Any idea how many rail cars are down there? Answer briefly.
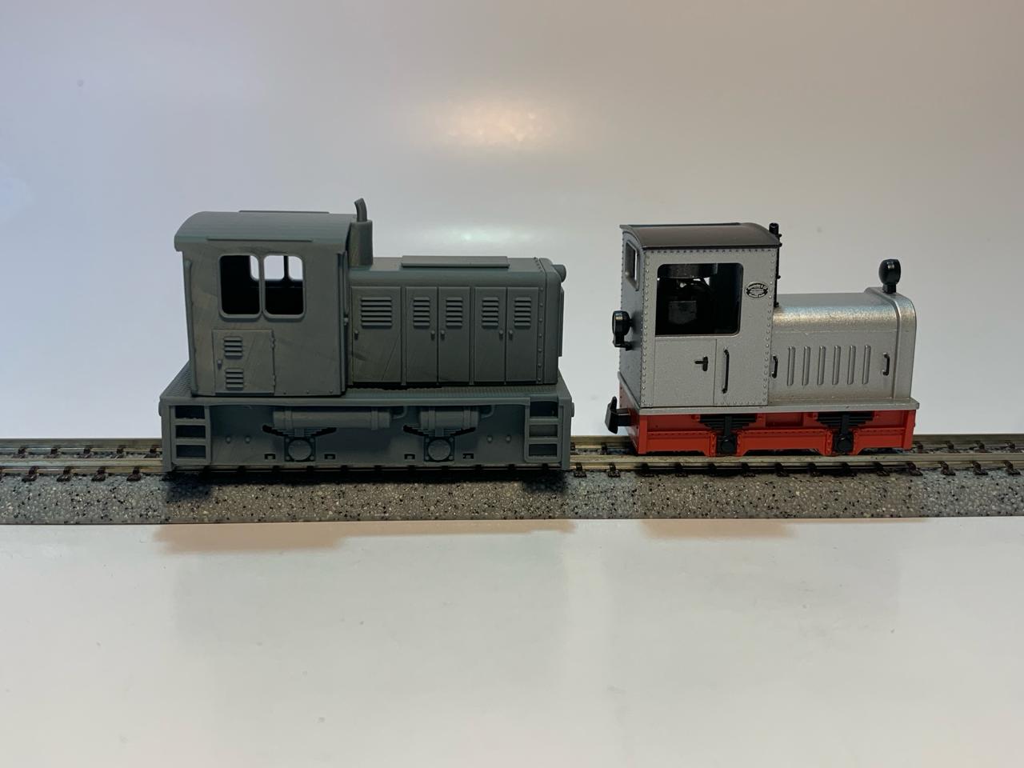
two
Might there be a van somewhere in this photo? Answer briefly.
No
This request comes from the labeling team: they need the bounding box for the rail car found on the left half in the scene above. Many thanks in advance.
[157,196,574,472]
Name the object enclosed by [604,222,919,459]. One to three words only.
rail car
